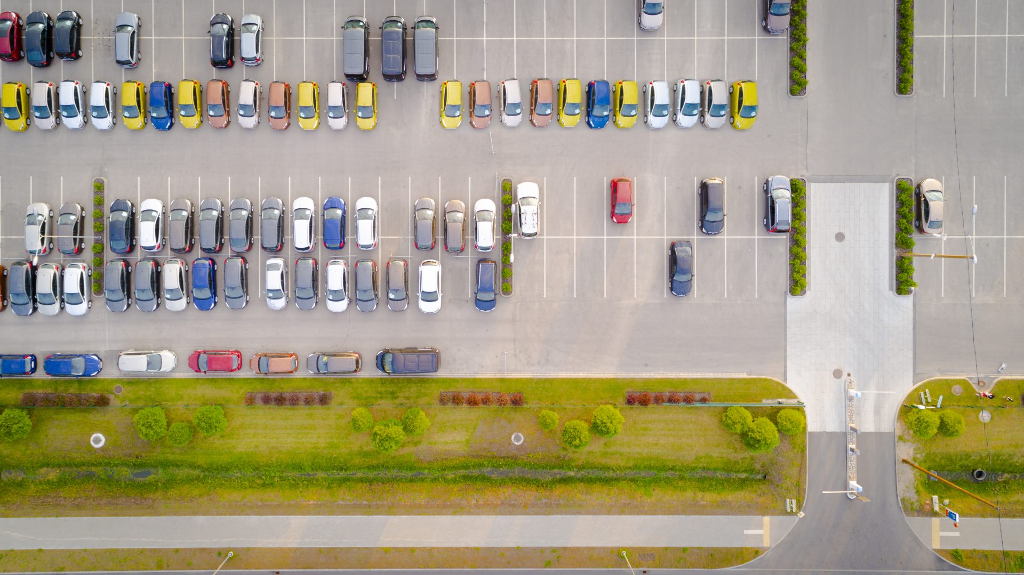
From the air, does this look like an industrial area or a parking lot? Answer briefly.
parking lot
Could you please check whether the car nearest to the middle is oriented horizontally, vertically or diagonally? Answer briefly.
vertically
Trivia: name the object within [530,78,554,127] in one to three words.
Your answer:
car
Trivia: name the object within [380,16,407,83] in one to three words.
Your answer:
vehicle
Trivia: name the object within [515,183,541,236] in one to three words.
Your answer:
car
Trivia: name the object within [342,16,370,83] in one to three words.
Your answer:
van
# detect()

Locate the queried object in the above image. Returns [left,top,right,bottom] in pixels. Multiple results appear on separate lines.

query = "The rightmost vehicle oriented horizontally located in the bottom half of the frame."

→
[376,349,441,376]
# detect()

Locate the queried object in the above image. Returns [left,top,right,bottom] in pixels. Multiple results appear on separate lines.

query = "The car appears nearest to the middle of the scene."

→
[473,257,499,313]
